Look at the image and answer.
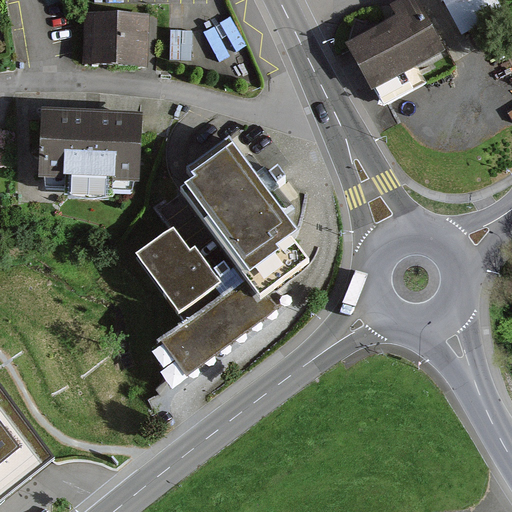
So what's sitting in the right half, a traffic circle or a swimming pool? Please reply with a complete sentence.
What appears in the right half is a traffic circle.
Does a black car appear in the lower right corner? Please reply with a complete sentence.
No, no black car appears in the lower right corner.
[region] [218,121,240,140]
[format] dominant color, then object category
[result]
black car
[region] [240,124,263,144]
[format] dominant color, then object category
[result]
black car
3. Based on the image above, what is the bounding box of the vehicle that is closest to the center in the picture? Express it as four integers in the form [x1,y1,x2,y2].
[200,240,218,258]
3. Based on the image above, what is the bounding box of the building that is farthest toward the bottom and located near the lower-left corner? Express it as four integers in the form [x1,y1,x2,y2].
[0,390,56,507]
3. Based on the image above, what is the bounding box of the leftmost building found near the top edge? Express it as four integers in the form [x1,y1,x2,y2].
[82,10,150,68]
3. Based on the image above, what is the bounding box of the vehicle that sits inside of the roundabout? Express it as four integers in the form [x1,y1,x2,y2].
[339,270,368,317]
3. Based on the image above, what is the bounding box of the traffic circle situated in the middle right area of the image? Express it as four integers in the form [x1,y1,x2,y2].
[336,204,488,364]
